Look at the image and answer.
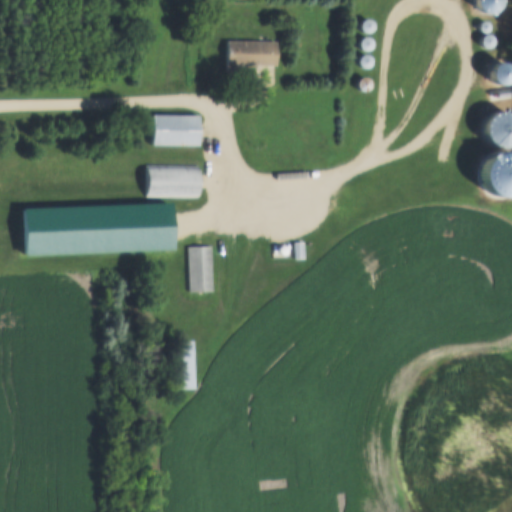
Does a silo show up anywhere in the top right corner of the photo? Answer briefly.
Yes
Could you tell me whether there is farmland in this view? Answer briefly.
Yes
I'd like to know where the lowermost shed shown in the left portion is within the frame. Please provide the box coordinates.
[180,340,198,391]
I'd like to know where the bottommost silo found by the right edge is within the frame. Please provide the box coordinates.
[481,154,512,198]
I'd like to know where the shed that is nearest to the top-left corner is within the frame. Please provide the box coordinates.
[152,115,203,147]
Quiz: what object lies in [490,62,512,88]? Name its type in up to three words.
silo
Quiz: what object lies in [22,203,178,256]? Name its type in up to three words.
building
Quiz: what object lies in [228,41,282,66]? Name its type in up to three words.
house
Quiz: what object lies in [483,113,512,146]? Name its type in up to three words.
silo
